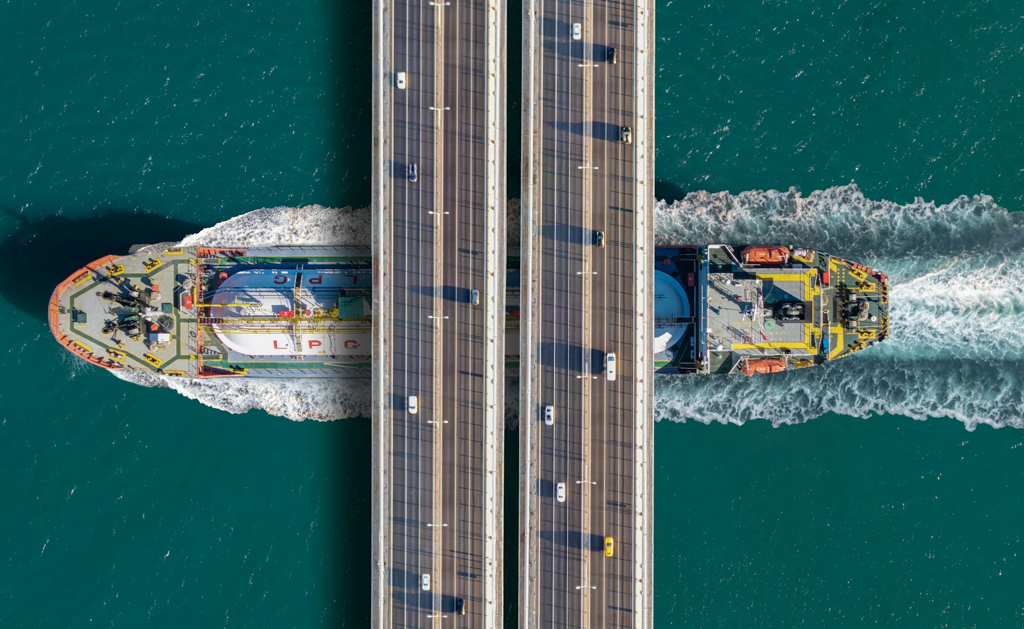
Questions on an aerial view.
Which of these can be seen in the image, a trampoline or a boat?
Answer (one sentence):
Visible in the photo is a boat.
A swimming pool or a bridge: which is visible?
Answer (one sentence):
The one in the frame is a bridge.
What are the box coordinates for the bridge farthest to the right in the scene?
[519,0,656,629]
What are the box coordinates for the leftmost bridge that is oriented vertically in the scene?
[371,0,507,629]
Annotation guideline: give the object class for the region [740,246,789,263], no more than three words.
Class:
boat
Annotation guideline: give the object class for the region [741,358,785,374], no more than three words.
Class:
boat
